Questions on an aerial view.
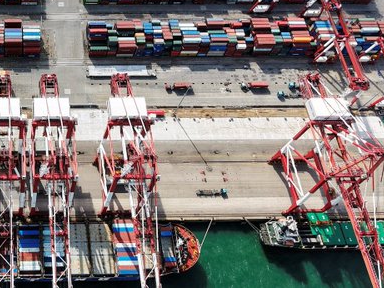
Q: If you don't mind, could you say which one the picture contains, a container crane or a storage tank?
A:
container crane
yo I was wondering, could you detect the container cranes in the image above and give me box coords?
[28,76,81,288]
[92,76,169,288]
[267,76,384,288]
[304,34,372,108]
[0,76,27,288]
[293,0,354,62]
[244,0,279,18]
